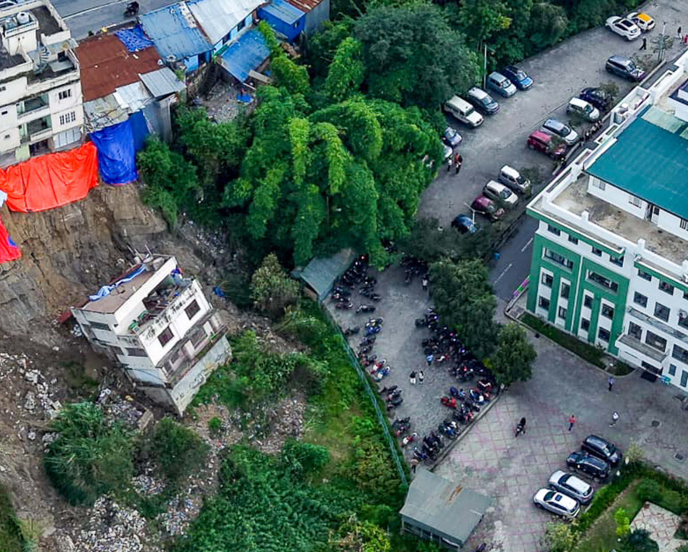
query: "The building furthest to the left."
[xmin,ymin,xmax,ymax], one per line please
[0,0,85,170]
